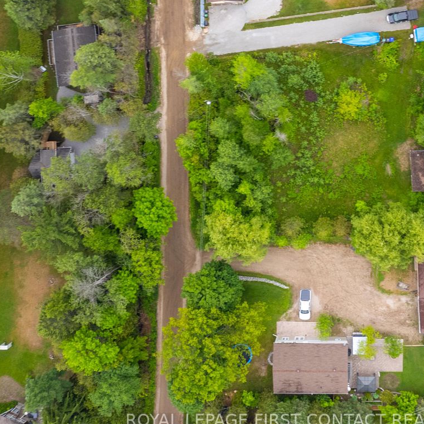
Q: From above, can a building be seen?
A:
Yes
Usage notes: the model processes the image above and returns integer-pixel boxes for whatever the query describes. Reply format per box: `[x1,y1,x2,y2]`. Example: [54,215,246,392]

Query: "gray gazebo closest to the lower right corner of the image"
[356,370,377,393]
